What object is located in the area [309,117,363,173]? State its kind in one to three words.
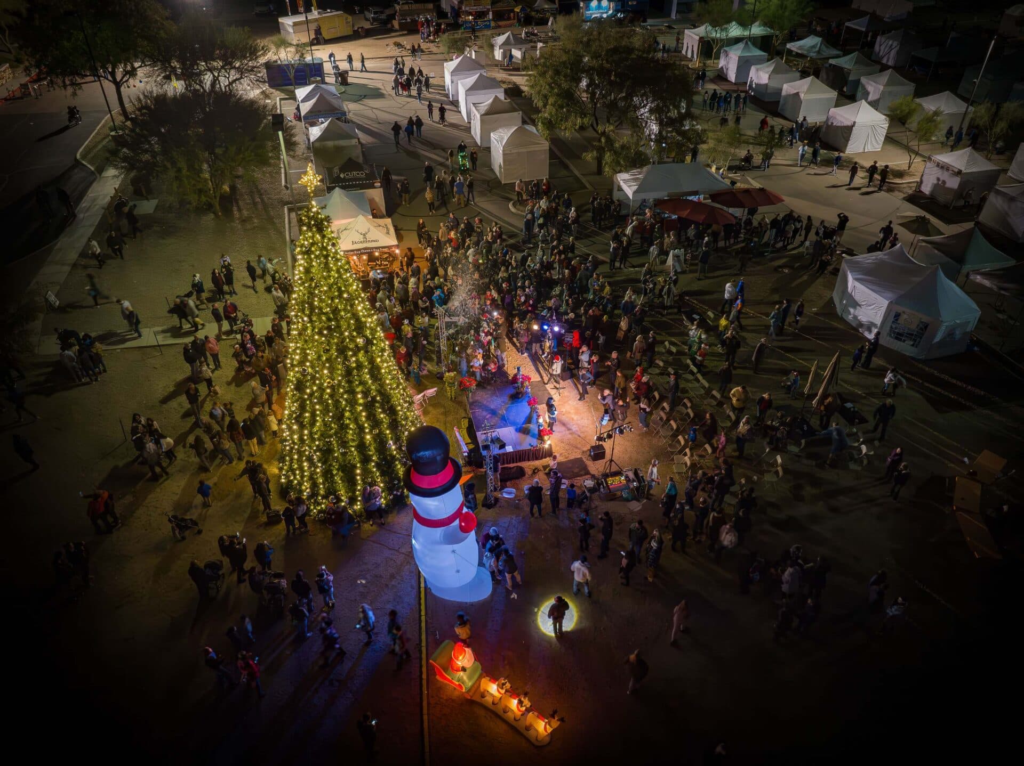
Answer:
tent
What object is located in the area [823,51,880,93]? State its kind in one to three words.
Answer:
tent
